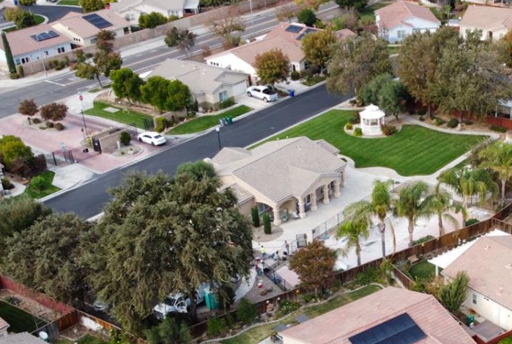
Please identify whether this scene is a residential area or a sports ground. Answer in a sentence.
This looks like a residential area.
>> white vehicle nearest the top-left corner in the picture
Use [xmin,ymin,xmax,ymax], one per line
[137,132,165,145]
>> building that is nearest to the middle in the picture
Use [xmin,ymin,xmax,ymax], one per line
[209,134,349,227]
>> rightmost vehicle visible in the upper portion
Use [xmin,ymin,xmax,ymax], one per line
[248,86,274,100]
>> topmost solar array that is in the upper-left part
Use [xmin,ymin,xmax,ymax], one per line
[82,13,114,27]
